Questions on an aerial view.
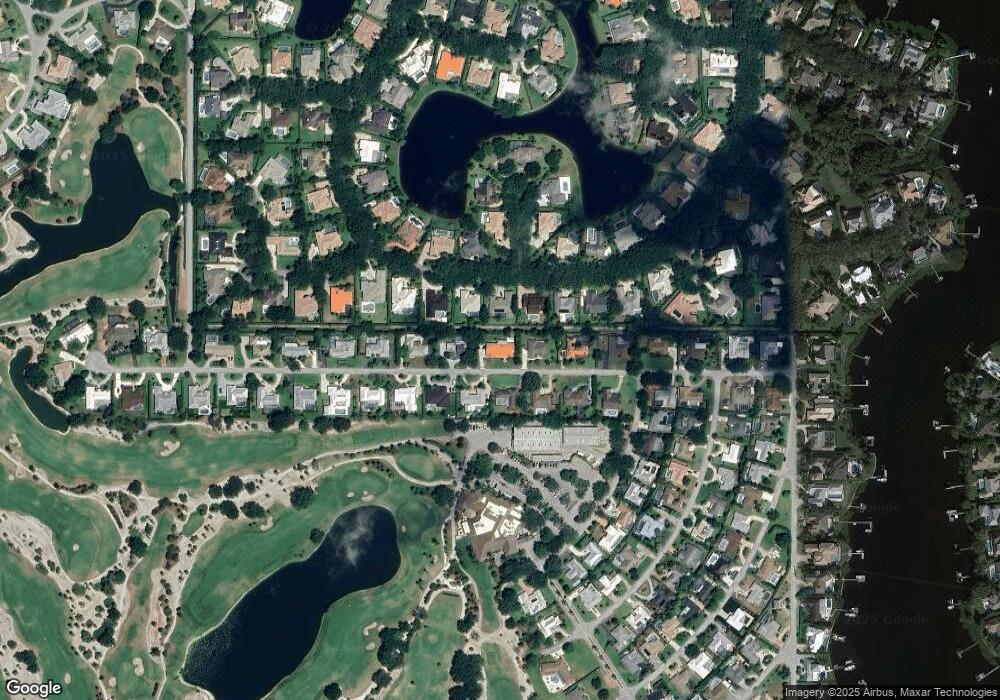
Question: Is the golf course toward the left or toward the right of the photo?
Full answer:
The golf course is on the left side of the image.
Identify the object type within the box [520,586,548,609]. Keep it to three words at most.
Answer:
house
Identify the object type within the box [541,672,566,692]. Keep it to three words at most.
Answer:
swimming pool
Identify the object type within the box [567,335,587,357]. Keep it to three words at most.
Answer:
house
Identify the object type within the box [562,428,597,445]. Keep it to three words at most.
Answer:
building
